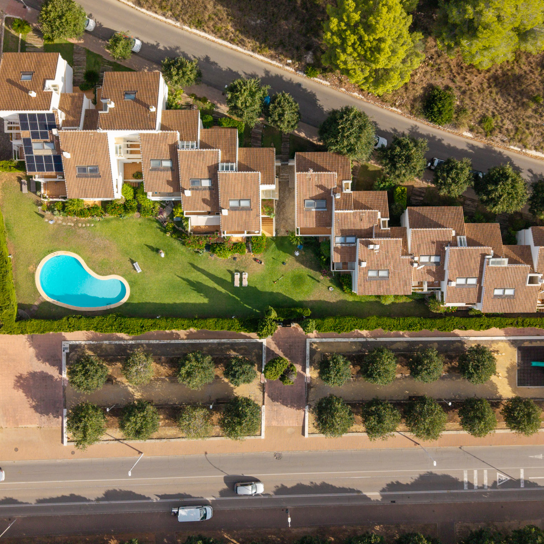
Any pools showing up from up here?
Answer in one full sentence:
Yes, this view includes a pool.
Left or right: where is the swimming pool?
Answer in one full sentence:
The swimming pool appears in the left half of the scene.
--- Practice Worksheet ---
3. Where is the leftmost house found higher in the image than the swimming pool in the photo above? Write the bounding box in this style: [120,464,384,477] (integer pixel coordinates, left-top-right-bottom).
[0,52,92,200]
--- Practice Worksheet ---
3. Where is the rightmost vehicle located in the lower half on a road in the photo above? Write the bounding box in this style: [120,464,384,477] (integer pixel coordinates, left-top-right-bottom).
[233,480,264,496]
